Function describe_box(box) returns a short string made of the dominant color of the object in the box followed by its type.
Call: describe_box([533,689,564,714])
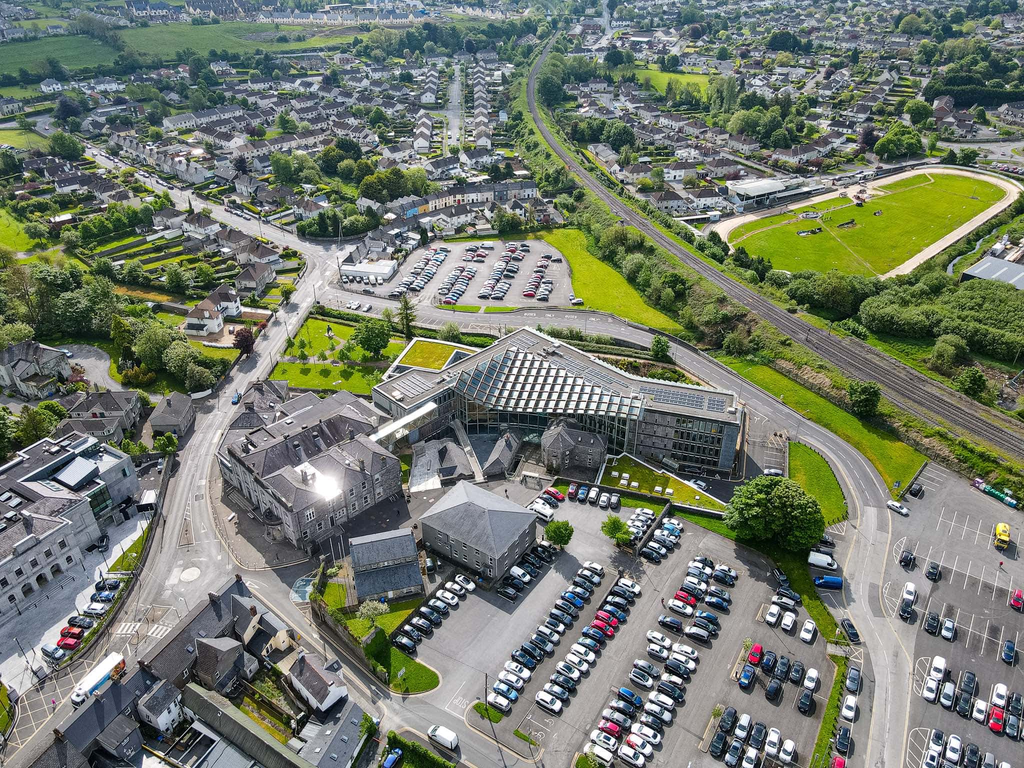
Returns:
white car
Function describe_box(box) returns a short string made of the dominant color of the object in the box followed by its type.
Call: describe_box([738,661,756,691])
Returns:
blue car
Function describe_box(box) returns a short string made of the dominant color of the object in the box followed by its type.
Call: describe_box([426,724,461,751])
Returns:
white vehicle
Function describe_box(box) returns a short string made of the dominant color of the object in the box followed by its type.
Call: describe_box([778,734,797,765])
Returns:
white car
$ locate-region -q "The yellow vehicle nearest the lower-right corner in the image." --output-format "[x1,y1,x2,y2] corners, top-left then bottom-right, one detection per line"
[992,525,1009,549]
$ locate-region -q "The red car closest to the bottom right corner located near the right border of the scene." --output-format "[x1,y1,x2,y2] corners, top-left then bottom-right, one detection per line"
[987,706,1005,734]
